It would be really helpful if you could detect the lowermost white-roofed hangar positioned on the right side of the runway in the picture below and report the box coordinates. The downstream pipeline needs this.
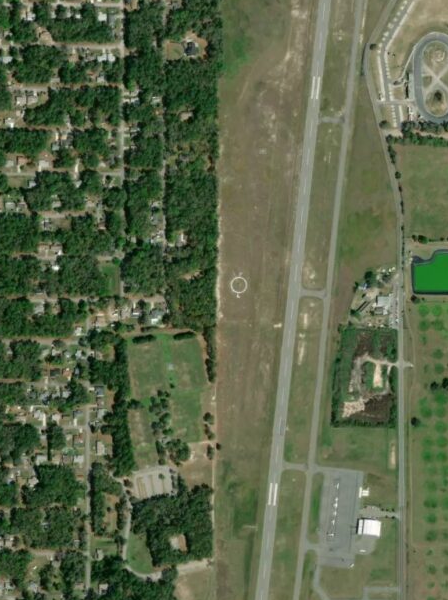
[358,520,382,537]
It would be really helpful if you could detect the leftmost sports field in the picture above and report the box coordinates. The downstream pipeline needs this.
[129,336,165,398]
